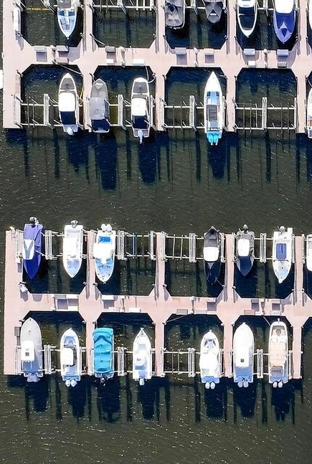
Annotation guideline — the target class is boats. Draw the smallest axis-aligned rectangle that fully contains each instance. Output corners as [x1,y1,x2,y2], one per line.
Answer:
[204,0,222,24]
[233,322,254,388]
[132,327,152,386]
[236,226,255,277]
[19,318,42,383]
[200,328,220,389]
[237,0,257,39]
[91,327,114,384]
[58,0,77,40]
[63,219,84,280]
[56,71,77,139]
[131,77,150,146]
[93,224,116,282]
[273,224,293,285]
[269,321,288,389]
[59,327,80,387]
[88,78,110,134]
[274,0,296,44]
[22,219,44,279]
[203,226,221,285]
[306,234,312,270]
[204,69,222,141]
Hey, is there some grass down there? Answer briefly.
No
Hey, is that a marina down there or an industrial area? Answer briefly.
marina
